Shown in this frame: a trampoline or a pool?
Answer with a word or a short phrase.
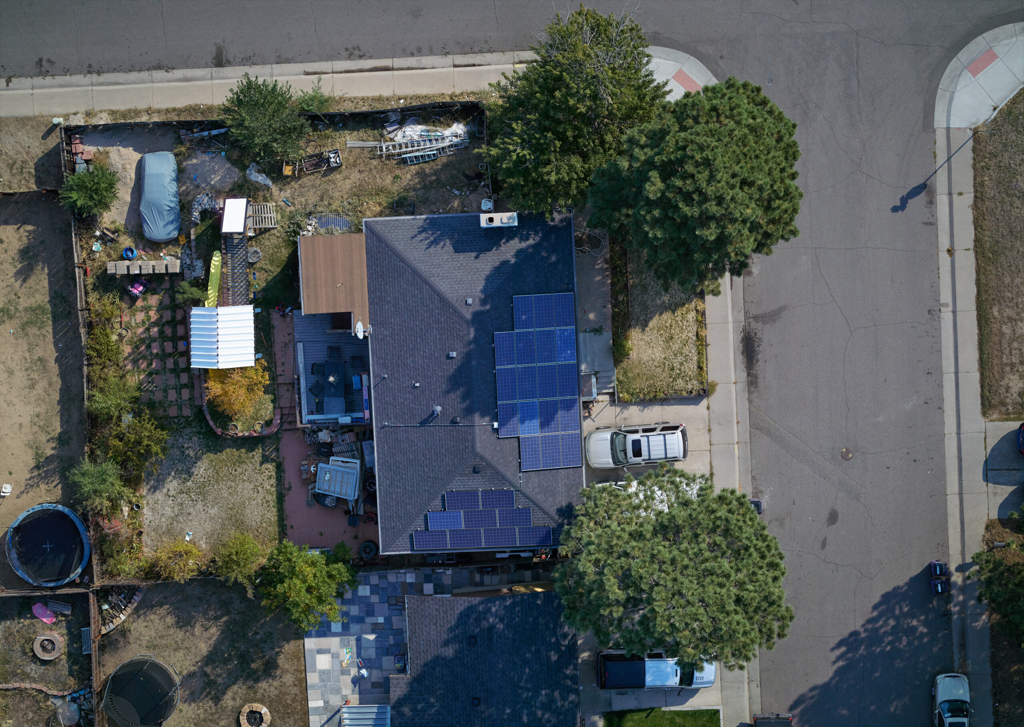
trampoline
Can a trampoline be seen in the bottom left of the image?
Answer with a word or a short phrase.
Yes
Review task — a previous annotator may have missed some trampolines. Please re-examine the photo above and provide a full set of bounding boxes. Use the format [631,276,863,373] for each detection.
[100,650,186,727]
[6,503,90,587]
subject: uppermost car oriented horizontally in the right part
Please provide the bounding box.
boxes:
[586,422,689,470]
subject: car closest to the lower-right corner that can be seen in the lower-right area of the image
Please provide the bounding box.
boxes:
[930,671,976,727]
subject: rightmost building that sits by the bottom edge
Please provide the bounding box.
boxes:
[388,581,581,727]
